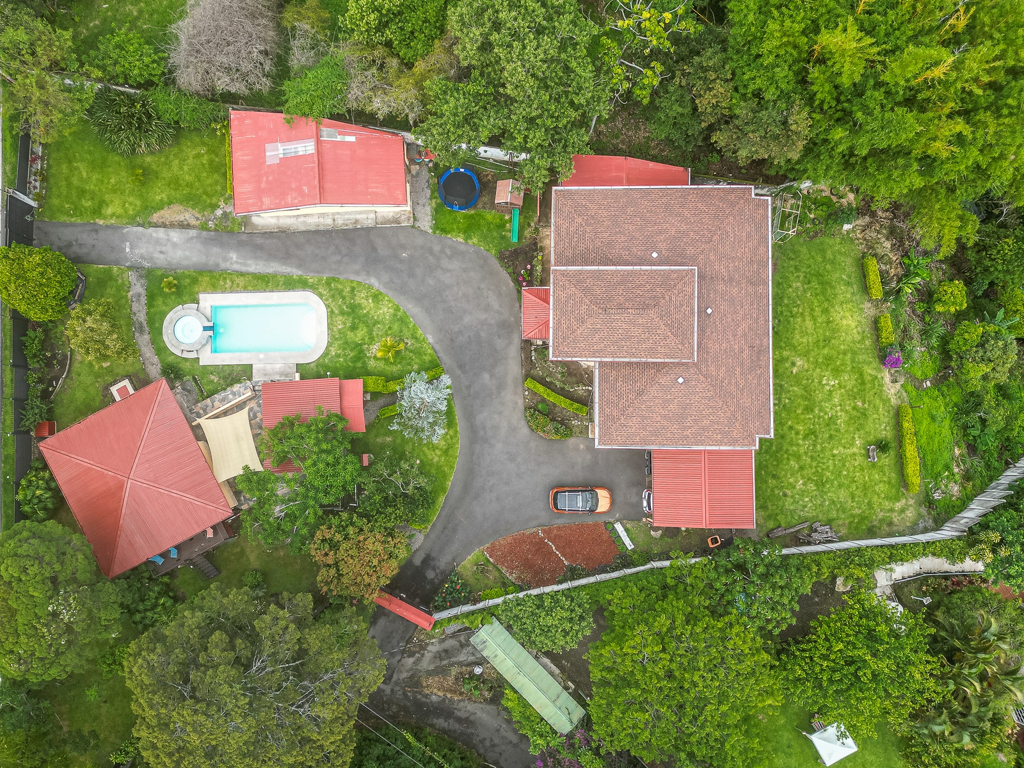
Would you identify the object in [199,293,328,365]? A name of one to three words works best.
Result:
swimming pool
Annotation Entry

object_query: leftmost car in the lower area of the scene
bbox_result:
[547,483,612,517]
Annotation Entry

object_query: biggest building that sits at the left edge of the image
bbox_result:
[38,377,240,580]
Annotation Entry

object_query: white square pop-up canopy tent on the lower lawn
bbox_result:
[796,708,858,767]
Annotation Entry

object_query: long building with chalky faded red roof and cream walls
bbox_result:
[230,110,413,231]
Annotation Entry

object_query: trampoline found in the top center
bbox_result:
[436,161,482,218]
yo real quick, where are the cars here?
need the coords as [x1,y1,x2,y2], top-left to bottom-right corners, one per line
[643,450,651,475]
[641,486,652,514]
[547,483,612,517]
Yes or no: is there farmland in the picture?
No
